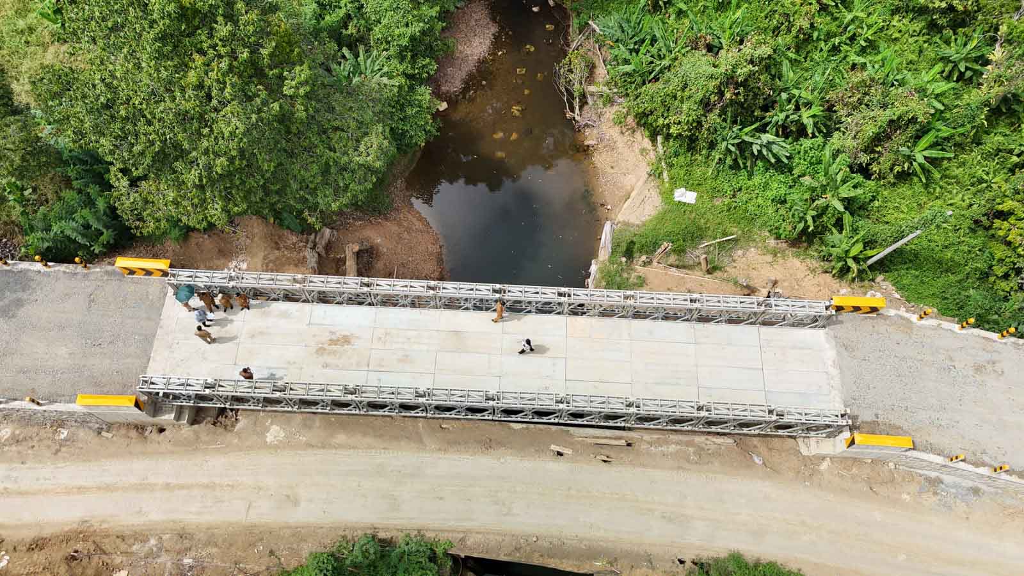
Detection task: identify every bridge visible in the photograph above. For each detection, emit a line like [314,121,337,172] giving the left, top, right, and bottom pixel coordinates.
[139,267,853,443]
